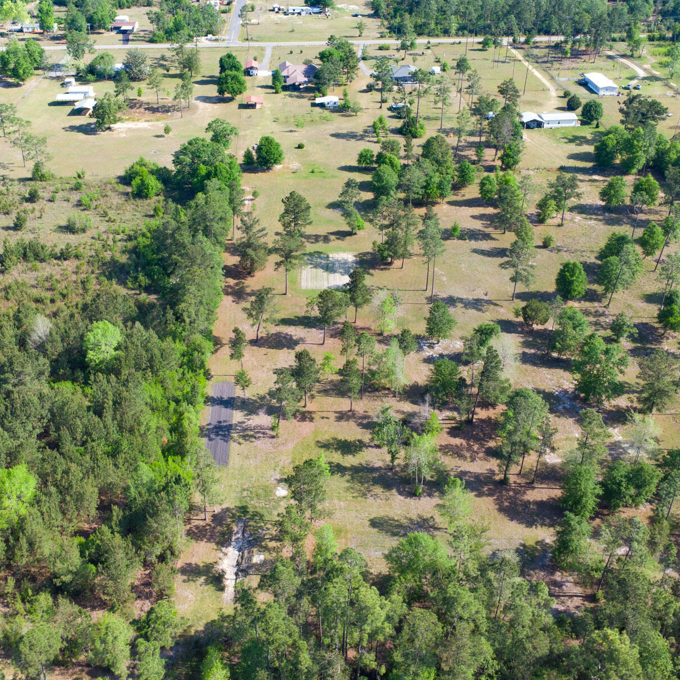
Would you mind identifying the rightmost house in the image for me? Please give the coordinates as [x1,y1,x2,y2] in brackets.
[584,72,619,95]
